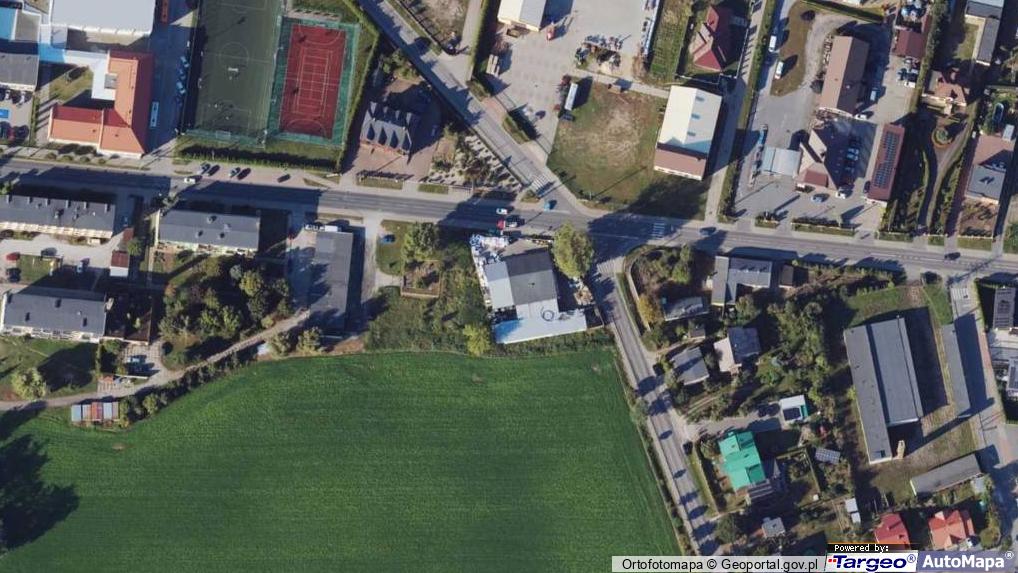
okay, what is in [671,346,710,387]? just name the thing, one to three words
house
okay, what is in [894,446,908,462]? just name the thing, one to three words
chimney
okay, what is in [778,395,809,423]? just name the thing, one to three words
shed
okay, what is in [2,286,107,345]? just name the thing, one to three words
building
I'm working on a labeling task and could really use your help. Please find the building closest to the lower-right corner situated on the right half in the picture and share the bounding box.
[928,510,975,557]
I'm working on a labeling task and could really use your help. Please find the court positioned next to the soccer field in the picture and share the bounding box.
[268,16,360,145]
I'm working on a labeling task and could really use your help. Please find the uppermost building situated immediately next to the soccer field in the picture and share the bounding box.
[39,0,159,50]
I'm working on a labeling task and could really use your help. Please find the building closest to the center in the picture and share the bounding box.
[484,247,587,346]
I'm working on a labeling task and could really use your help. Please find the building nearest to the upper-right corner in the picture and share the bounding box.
[963,0,1003,68]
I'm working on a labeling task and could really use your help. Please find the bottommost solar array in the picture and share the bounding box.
[813,448,839,464]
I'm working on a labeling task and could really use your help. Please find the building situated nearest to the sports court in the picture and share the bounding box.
[361,100,413,157]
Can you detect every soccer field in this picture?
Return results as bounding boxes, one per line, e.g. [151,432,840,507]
[184,0,281,145]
